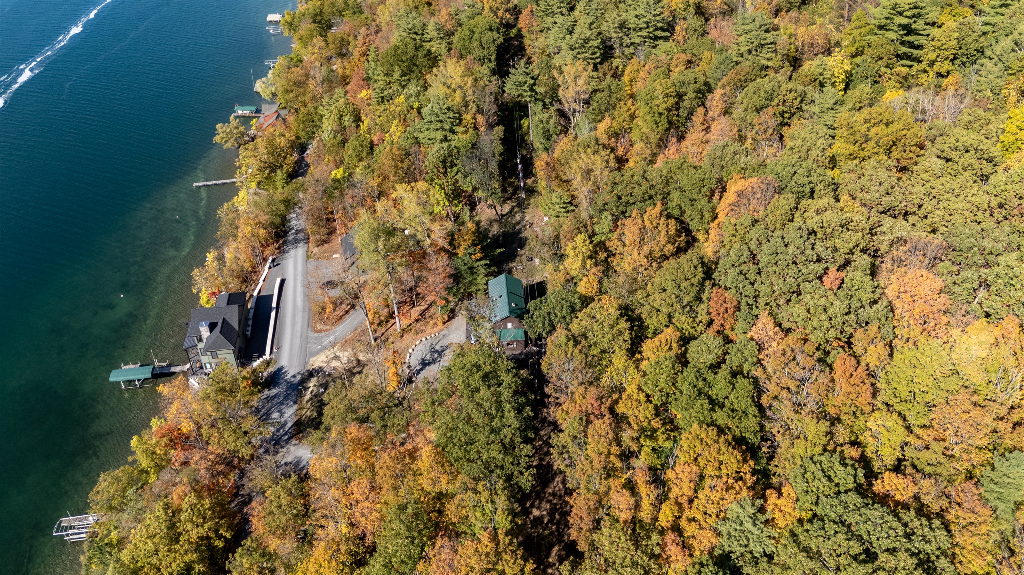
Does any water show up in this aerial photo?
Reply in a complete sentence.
Yes, the picture does contain water.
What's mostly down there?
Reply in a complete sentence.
For the most part, this view shows trees.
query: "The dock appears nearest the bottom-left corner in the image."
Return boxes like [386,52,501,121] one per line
[51,511,103,539]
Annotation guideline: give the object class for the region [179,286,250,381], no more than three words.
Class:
house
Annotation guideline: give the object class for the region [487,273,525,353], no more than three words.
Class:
house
